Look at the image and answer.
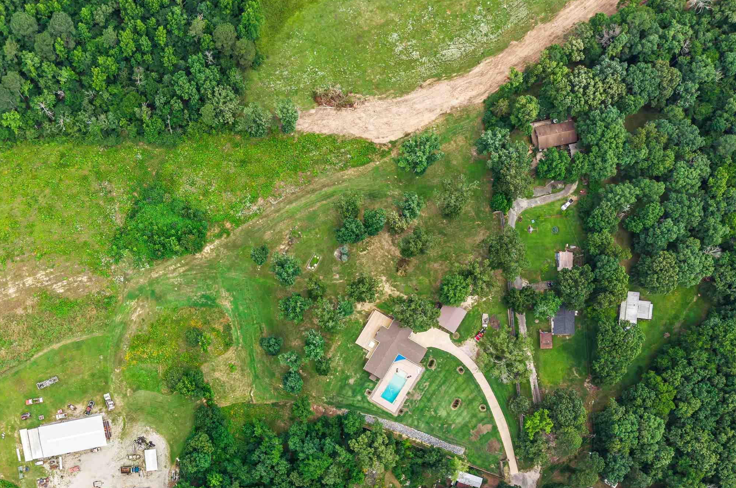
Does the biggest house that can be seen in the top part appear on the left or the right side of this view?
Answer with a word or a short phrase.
right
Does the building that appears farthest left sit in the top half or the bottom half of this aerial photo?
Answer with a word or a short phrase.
bottom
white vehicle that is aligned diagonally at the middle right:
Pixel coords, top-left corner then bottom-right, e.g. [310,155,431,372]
[560,197,575,211]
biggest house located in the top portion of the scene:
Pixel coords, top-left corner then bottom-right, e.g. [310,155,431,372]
[528,120,578,150]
